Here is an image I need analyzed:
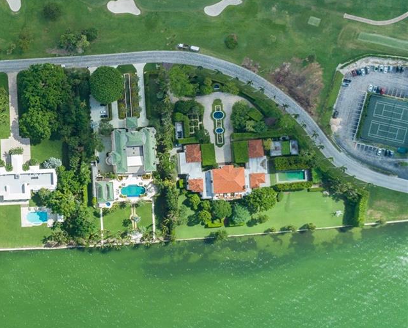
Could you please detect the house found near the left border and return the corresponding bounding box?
[0,155,57,205]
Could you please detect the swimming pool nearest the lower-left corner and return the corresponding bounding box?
[21,207,55,227]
